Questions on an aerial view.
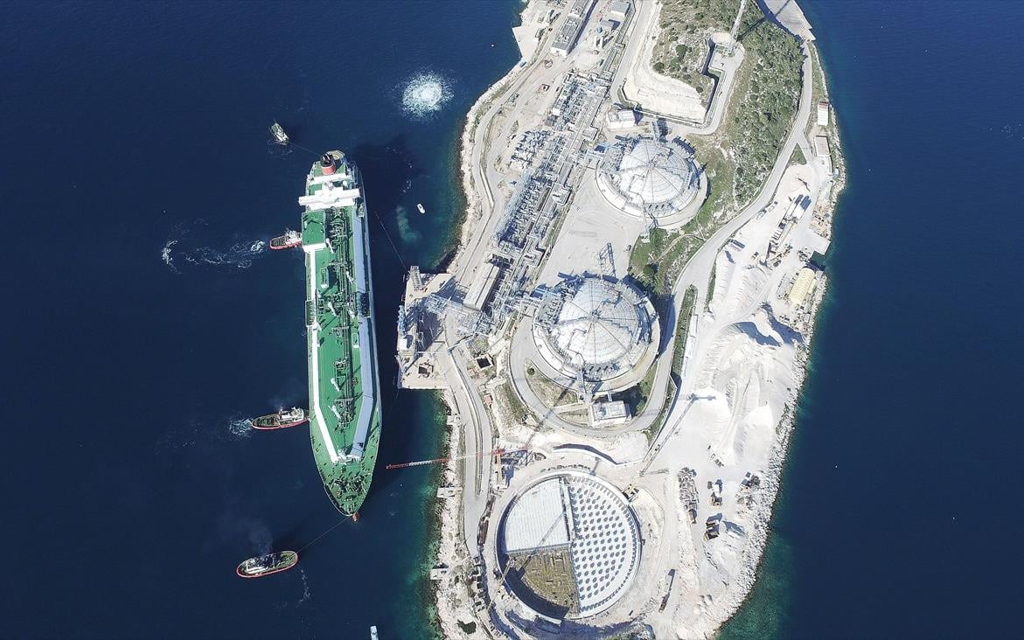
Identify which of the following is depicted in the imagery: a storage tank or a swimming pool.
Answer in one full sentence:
The image shows a storage tank.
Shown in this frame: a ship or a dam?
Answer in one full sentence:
The image shows a ship.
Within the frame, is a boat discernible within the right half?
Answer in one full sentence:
No, there is no boat within the right half.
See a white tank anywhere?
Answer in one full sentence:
Yes, the image includes a white tank.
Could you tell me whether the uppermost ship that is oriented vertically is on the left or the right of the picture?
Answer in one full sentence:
The uppermost ship that is oriented vertically is on the left side of the image.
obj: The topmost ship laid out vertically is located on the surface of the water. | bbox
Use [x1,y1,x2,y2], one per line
[295,147,382,524]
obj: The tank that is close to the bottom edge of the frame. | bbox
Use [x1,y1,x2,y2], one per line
[494,460,643,621]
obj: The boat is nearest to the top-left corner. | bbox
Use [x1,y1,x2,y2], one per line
[269,123,289,144]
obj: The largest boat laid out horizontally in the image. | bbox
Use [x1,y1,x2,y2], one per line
[236,549,299,578]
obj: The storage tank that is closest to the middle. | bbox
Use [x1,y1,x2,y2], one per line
[531,249,662,395]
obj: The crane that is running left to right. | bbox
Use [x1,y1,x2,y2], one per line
[386,448,528,487]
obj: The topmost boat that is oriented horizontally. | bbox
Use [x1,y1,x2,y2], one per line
[269,230,301,249]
